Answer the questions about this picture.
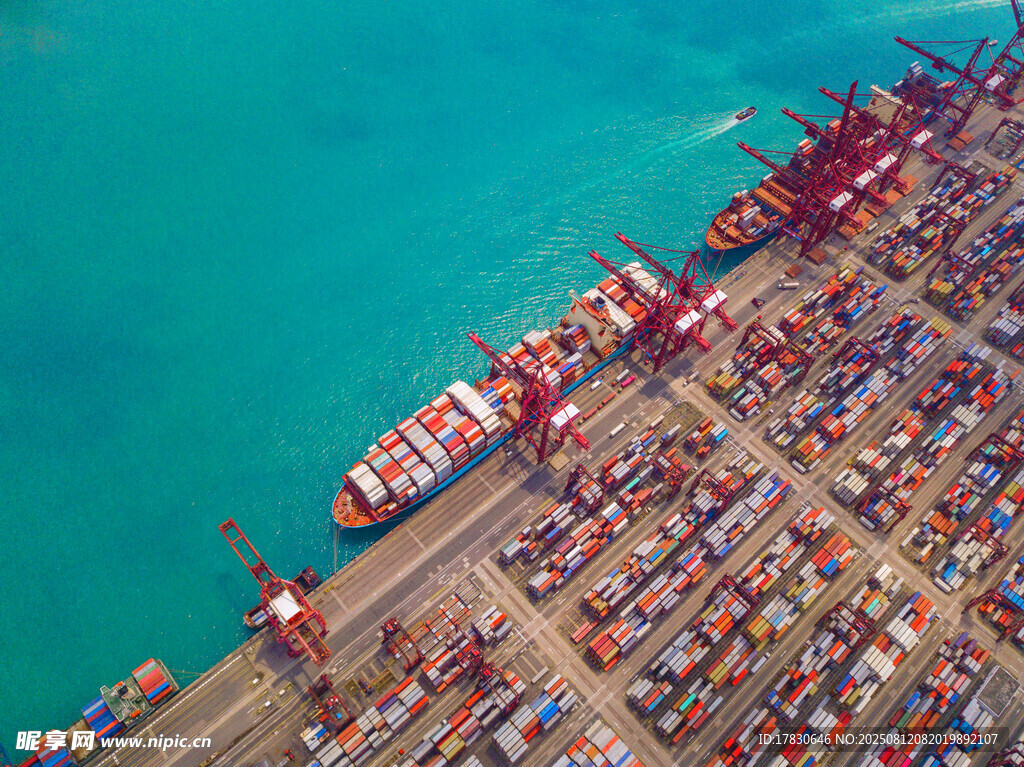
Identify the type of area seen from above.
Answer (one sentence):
What you see here is a port.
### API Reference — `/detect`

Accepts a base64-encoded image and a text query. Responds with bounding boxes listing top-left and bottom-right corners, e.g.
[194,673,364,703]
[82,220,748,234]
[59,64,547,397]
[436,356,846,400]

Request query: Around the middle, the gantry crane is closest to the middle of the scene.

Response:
[466,332,597,462]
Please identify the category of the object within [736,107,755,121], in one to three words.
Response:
boat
